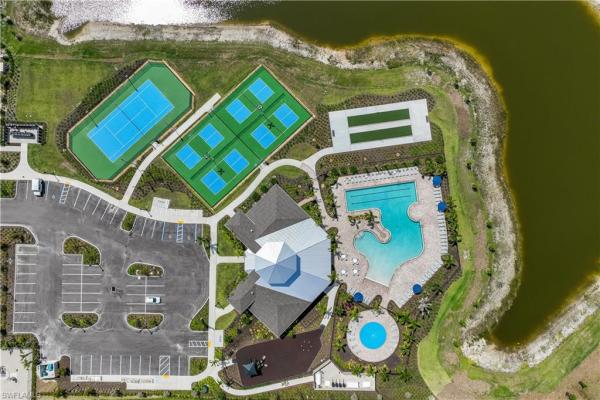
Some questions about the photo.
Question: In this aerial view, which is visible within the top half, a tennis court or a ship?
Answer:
tennis court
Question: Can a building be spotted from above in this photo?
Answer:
Yes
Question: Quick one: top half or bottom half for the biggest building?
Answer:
bottom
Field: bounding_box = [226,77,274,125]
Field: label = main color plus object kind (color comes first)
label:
blue sports court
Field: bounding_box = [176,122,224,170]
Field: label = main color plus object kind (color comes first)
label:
blue sports court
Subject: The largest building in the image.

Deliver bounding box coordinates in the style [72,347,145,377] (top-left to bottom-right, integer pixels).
[224,184,332,339]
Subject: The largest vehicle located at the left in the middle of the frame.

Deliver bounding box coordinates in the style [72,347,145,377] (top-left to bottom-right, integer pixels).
[32,178,46,197]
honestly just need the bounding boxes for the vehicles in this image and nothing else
[146,295,162,303]
[32,178,46,197]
